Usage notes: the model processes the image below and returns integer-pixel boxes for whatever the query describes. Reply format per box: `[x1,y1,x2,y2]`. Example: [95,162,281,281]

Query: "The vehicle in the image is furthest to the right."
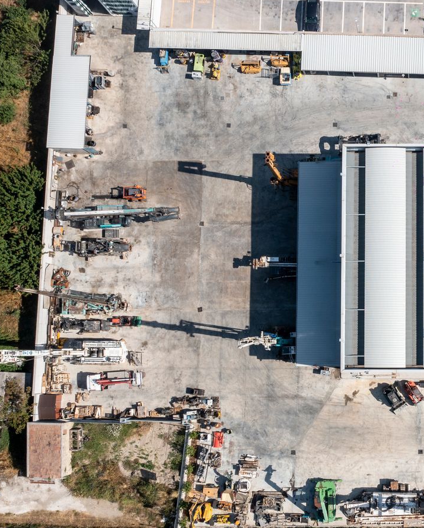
[403,382,424,408]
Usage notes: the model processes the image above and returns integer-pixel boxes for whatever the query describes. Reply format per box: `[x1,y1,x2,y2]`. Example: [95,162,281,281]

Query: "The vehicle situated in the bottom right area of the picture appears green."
[310,478,343,525]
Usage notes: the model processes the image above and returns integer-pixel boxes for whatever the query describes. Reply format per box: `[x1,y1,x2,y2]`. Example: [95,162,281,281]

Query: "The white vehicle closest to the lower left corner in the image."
[87,371,142,391]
